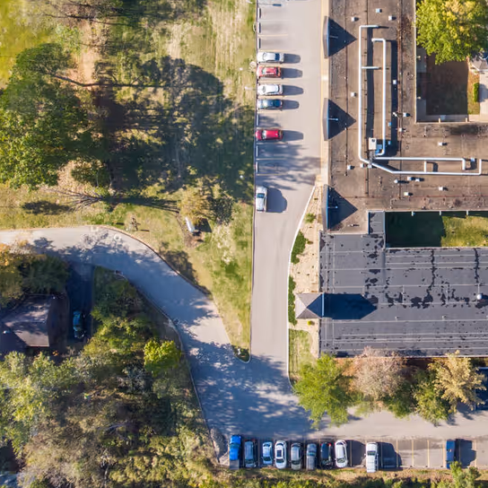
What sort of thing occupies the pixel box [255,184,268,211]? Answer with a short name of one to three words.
vehicle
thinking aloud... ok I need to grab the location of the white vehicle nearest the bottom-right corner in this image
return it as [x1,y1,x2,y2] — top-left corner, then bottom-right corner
[365,440,378,473]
